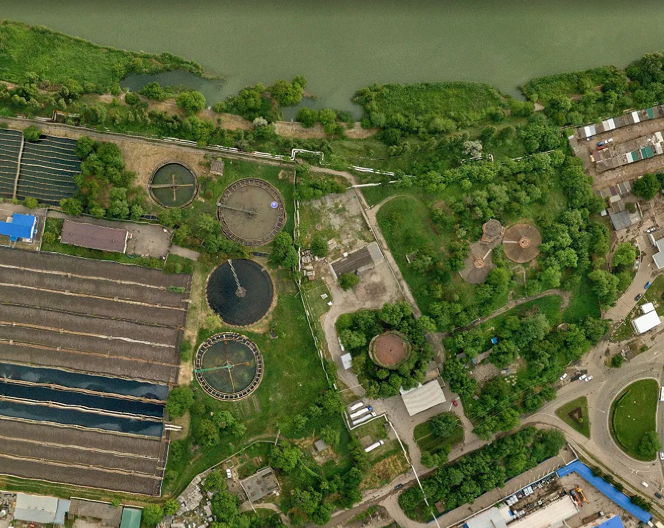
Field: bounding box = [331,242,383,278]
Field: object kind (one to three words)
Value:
building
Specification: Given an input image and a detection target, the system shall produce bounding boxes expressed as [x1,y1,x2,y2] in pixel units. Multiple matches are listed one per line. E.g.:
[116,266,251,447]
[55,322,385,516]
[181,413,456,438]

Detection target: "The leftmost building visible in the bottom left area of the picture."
[14,492,70,525]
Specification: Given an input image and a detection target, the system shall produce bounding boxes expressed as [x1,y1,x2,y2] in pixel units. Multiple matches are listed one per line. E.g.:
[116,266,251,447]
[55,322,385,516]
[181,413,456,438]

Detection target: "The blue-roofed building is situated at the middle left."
[0,213,38,241]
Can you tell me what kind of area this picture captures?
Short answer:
industrial area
